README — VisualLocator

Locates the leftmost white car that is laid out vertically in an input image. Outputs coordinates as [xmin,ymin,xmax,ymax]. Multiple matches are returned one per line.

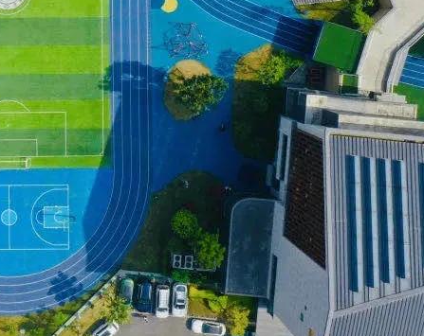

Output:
[155,283,170,317]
